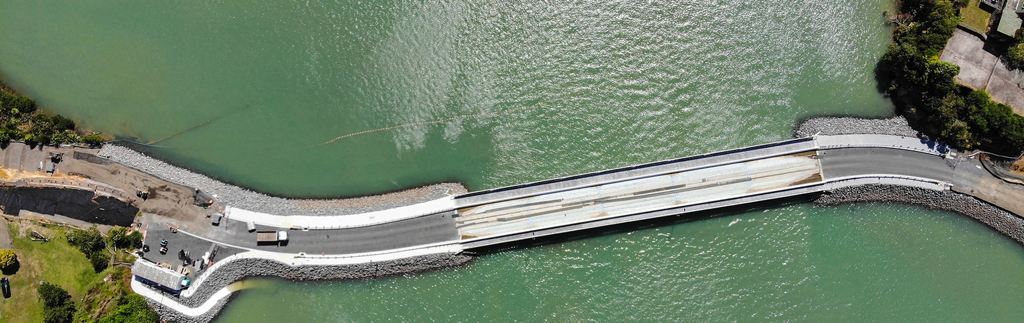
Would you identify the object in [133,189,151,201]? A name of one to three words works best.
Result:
vehicle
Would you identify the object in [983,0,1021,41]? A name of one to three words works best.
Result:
house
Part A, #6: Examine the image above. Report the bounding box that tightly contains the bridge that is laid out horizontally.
[445,129,834,256]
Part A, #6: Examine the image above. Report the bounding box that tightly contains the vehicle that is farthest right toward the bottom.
[256,231,291,243]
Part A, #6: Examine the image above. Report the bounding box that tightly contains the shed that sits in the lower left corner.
[135,259,190,290]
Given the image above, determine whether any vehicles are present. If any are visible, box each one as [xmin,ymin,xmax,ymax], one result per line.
[47,153,67,161]
[256,231,291,243]
[159,239,168,245]
[0,278,12,297]
[157,247,166,254]
[133,189,151,201]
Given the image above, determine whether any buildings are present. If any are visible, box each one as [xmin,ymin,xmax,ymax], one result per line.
[983,0,1021,41]
[135,259,190,290]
